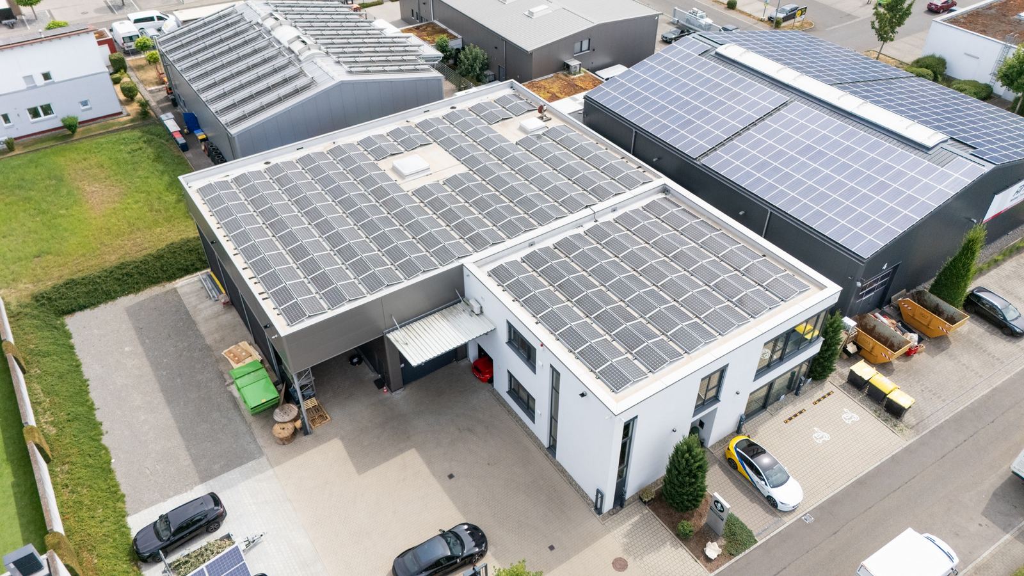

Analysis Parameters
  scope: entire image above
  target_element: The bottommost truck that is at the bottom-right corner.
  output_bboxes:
[856,526,963,576]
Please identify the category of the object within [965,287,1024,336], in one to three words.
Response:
car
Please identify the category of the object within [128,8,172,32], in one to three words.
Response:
vehicle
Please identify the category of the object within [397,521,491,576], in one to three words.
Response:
car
